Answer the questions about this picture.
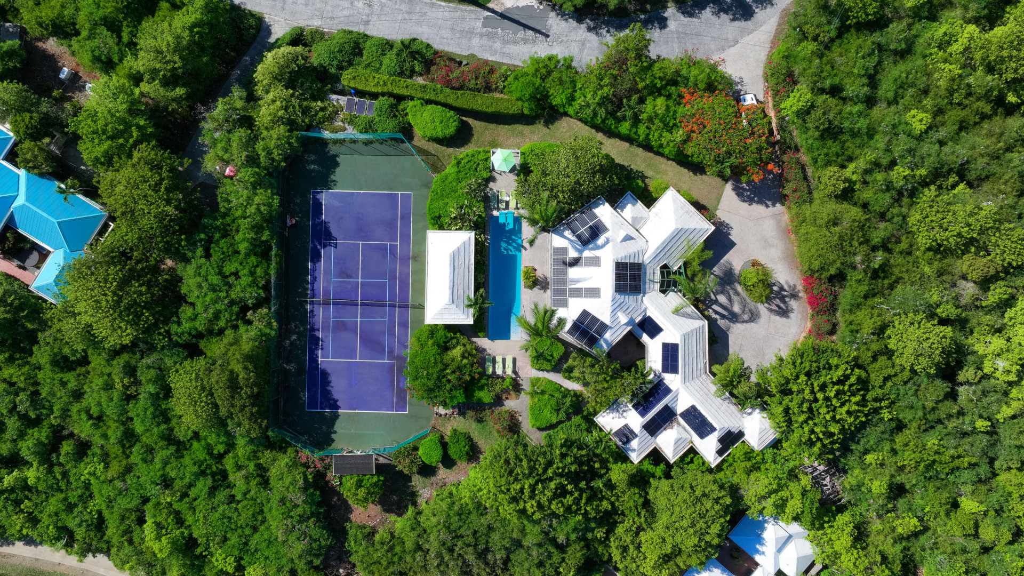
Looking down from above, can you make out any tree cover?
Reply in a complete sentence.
Yes, the picture does contain tree cover.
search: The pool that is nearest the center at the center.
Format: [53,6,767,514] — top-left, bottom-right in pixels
[486,213,524,342]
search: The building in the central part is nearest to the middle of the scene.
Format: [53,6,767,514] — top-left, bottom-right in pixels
[424,230,475,324]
